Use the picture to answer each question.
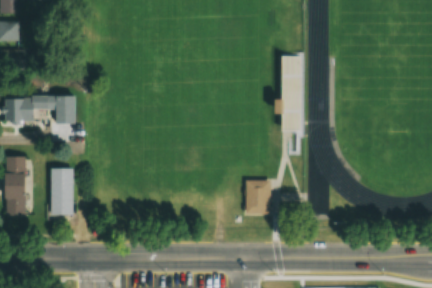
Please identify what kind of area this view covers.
sports ground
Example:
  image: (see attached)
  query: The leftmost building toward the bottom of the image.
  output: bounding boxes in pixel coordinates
[4,157,25,216]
